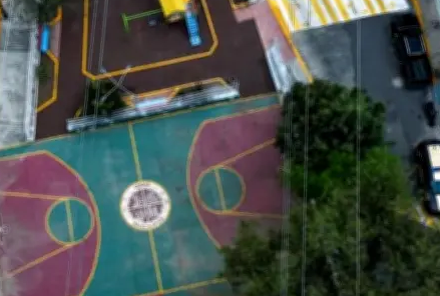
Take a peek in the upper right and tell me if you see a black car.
Yes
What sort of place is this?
sports ground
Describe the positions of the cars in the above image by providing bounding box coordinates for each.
[412,141,440,212]
[389,15,432,87]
